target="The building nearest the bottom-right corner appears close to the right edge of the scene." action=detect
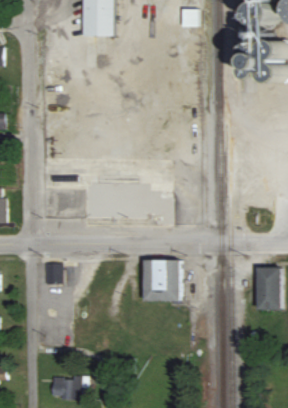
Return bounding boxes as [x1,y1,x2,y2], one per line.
[256,267,286,310]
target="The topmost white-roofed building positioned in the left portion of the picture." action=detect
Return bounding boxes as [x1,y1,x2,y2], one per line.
[83,0,118,36]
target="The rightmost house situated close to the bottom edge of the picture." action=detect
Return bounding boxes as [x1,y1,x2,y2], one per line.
[53,376,94,400]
